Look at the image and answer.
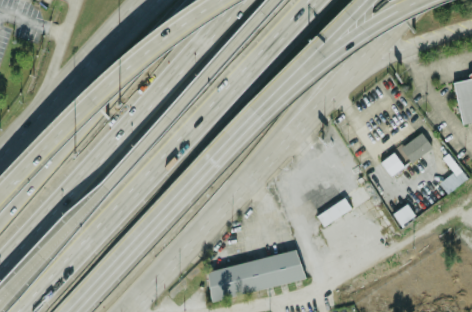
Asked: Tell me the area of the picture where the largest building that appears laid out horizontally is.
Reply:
bottom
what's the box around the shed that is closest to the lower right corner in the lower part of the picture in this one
[392,204,416,228]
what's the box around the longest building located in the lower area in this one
[208,250,306,300]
